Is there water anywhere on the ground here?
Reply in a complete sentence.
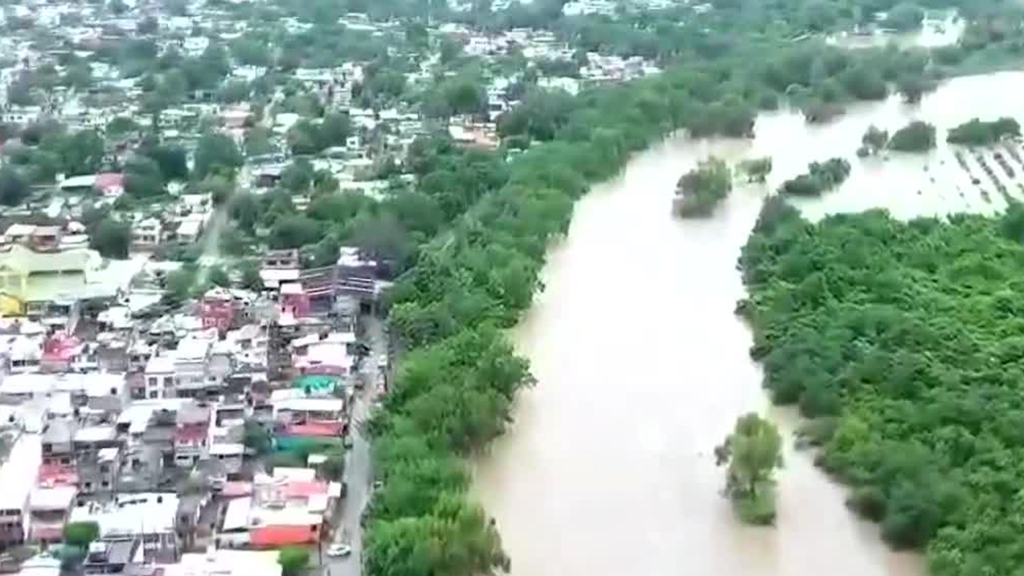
Yes, there's water in this view.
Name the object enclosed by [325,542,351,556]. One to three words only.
car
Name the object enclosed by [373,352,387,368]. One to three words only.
vehicle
